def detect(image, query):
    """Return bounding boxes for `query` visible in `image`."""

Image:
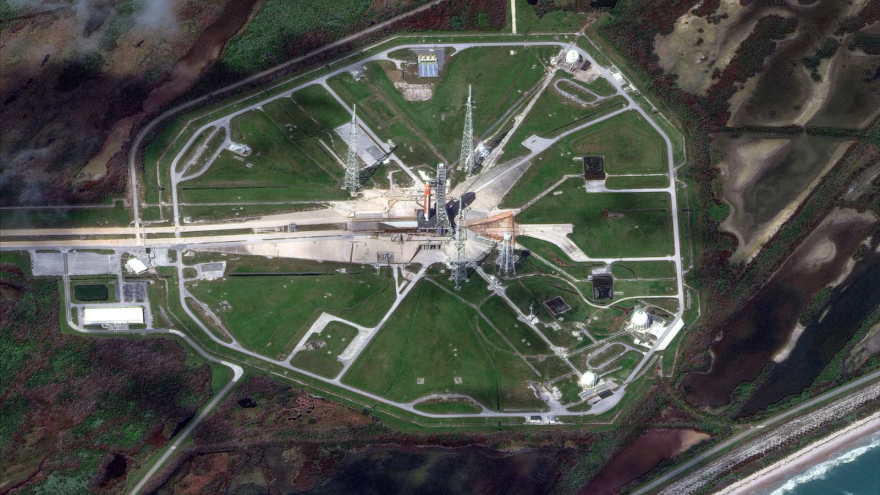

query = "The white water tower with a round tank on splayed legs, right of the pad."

[498,229,516,278]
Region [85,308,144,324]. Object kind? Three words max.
building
